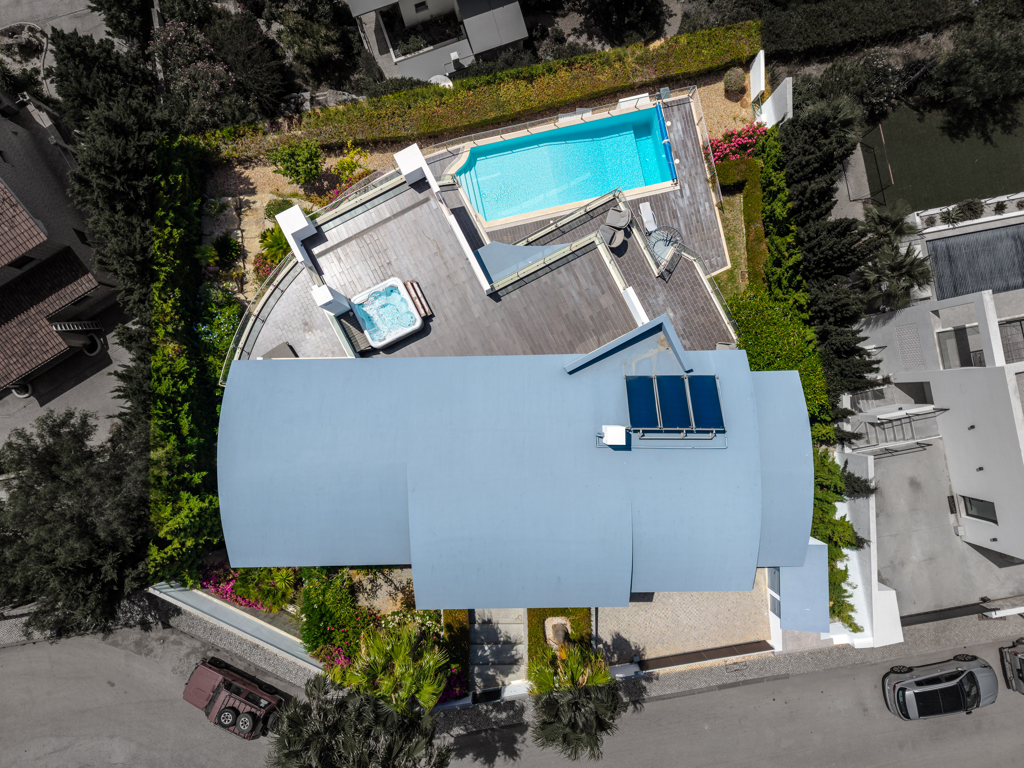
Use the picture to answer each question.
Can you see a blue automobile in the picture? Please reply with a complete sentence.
No, there is no blue automobile in the image.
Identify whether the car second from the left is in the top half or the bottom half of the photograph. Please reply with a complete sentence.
The car second from the left sits in the bottom half of the picture.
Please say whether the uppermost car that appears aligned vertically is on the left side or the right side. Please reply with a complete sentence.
You can find the uppermost car that appears aligned vertically on the right side of the picture.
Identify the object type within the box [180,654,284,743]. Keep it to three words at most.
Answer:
car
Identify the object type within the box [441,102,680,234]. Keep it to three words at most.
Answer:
swimming pool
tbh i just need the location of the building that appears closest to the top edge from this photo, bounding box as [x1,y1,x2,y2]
[349,0,528,84]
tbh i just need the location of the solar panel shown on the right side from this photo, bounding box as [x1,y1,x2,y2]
[624,373,727,440]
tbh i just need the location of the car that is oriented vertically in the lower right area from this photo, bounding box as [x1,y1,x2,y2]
[1001,636,1024,692]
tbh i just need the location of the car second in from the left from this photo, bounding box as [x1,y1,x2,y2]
[880,652,998,721]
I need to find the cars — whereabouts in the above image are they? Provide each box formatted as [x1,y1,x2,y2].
[880,652,998,721]
[180,654,284,743]
[1001,636,1024,692]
